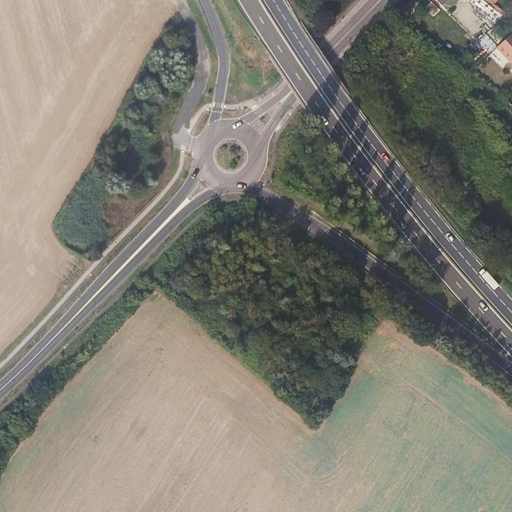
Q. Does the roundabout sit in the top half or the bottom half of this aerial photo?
top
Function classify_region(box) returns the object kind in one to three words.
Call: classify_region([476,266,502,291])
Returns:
truck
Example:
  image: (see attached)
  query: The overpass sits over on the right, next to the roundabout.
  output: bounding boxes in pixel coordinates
[260,5,356,124]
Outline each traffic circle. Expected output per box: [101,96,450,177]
[190,108,274,196]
